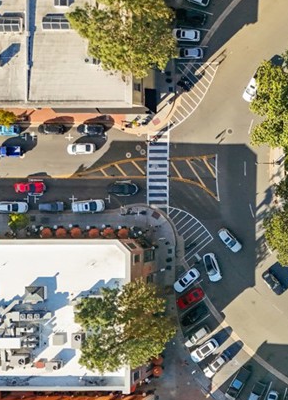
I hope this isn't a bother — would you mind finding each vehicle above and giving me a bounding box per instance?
[266,389,280,400]
[202,251,224,283]
[178,48,205,60]
[39,121,68,136]
[15,180,48,194]
[201,347,236,378]
[68,141,97,155]
[180,301,212,326]
[187,0,212,8]
[245,378,270,400]
[79,122,107,136]
[216,226,245,254]
[71,198,106,212]
[173,267,202,292]
[174,28,202,42]
[188,336,221,363]
[0,200,30,214]
[242,71,262,101]
[177,8,209,26]
[222,366,253,400]
[182,322,214,350]
[176,288,206,309]
[0,144,25,158]
[38,200,66,214]
[261,269,287,296]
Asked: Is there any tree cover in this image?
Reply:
Yes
